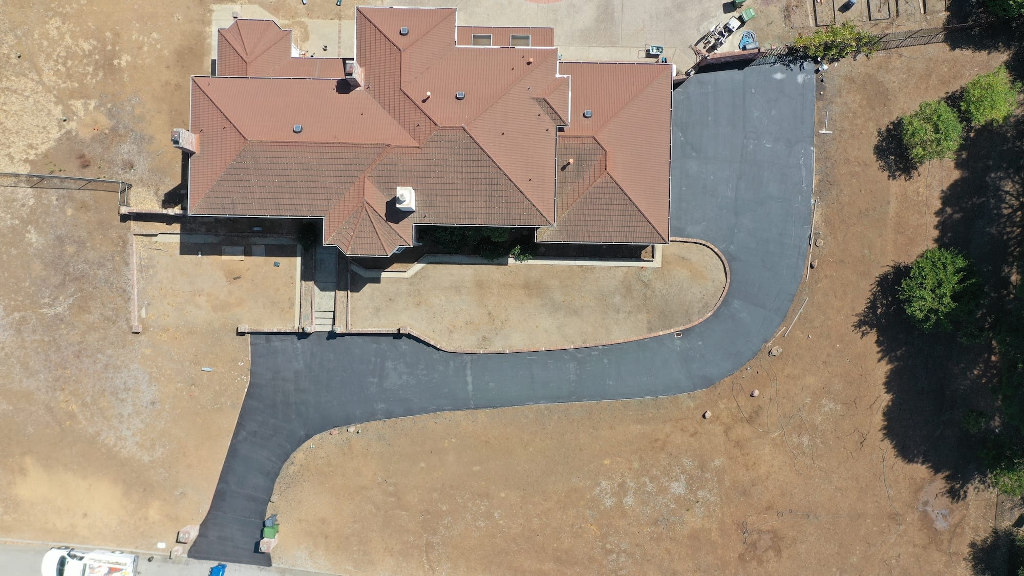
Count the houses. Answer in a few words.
1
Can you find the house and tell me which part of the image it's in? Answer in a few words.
top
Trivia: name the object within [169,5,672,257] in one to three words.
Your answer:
house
